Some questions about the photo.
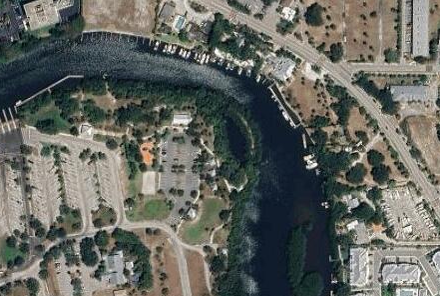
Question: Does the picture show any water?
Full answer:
Yes, there is water in the image.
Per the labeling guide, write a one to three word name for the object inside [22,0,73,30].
building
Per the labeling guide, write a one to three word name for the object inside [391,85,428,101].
building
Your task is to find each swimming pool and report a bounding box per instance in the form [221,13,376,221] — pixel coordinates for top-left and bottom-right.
[174,14,185,32]
[396,287,419,296]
